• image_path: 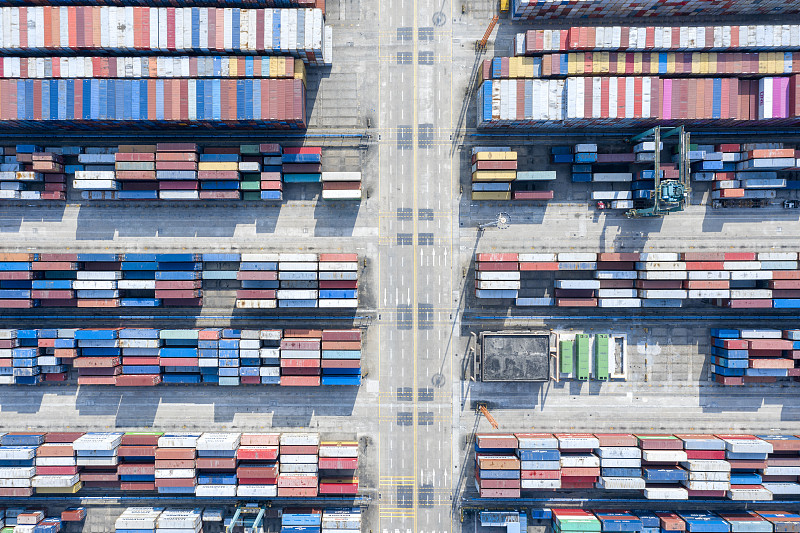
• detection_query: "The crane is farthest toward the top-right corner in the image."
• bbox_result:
[624,125,691,215]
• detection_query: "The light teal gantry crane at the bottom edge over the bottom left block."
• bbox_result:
[223,508,269,533]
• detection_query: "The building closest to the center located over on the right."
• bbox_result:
[477,327,548,382]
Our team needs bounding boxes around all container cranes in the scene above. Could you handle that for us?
[223,508,269,533]
[624,125,691,215]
